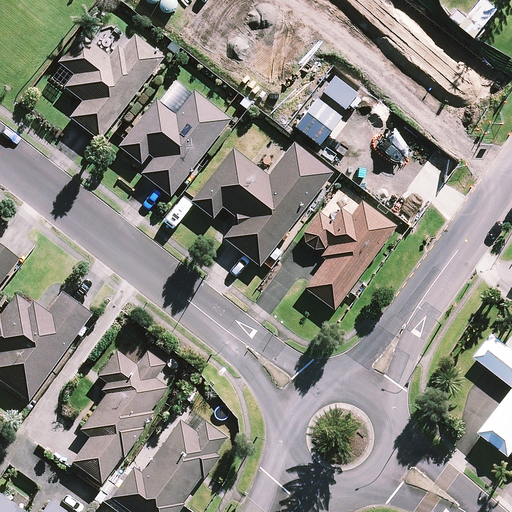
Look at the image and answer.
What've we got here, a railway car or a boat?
boat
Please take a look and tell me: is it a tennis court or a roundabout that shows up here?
roundabout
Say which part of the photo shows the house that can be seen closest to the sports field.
top left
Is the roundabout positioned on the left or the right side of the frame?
right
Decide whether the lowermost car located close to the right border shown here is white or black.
black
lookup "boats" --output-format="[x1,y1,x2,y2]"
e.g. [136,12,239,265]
[375,134,408,160]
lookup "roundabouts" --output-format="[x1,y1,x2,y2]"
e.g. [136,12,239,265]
[272,368,408,504]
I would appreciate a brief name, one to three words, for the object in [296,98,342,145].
shed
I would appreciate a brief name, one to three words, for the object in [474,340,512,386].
house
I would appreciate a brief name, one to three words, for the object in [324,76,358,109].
shed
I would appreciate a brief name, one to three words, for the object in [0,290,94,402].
house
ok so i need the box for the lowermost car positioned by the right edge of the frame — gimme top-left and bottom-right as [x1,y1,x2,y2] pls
[484,222,504,246]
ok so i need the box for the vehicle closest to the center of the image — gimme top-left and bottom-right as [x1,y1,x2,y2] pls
[228,255,248,278]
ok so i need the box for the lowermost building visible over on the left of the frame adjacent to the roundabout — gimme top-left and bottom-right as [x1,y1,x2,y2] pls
[104,420,228,512]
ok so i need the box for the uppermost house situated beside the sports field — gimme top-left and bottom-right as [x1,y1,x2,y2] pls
[60,34,166,139]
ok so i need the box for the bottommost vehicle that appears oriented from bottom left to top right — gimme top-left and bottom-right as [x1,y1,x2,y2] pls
[76,276,94,298]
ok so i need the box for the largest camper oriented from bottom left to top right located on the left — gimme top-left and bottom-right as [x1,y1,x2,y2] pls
[167,196,194,226]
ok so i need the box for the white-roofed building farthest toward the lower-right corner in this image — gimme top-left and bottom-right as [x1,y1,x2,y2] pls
[478,386,512,456]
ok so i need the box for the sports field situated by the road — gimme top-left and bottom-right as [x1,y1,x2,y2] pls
[0,0,98,111]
